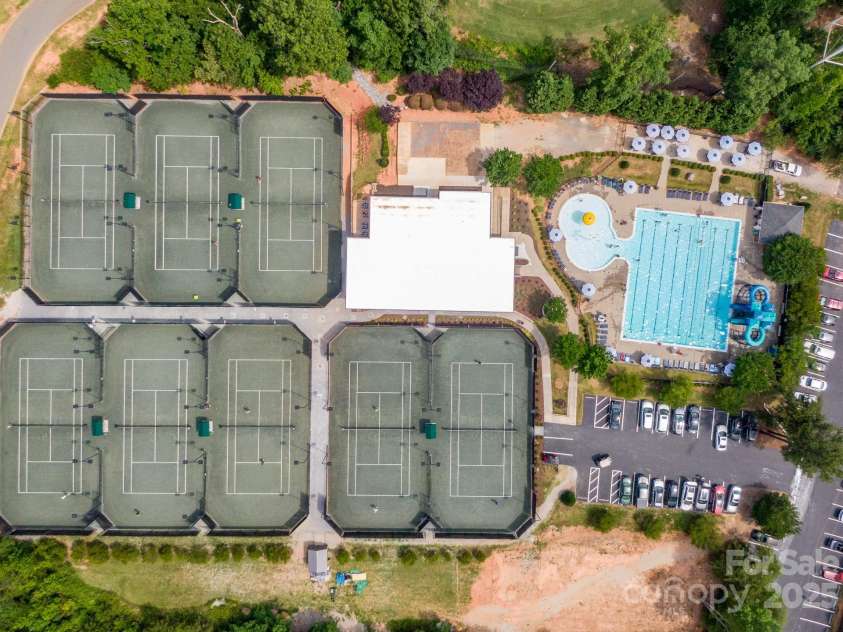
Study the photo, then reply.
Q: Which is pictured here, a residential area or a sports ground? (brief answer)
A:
sports ground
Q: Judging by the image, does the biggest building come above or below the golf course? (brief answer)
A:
below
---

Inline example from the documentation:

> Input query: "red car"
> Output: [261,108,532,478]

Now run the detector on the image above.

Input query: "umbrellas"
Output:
[730,153,745,168]
[659,127,673,141]
[580,282,594,296]
[674,144,690,160]
[718,136,733,150]
[605,346,617,358]
[706,148,720,162]
[631,137,645,151]
[640,353,654,367]
[548,228,563,242]
[651,140,666,155]
[719,192,733,206]
[645,124,659,139]
[746,142,761,157]
[622,179,637,194]
[674,128,689,143]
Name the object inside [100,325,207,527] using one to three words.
tennis court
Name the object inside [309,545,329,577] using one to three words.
shed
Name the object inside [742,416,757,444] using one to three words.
car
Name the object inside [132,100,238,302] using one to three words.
tennis court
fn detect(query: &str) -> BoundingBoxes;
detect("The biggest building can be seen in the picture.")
[347,186,515,311]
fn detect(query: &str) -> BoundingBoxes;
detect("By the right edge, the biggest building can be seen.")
[751,202,804,245]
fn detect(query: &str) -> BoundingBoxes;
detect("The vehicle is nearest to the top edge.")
[769,160,804,178]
